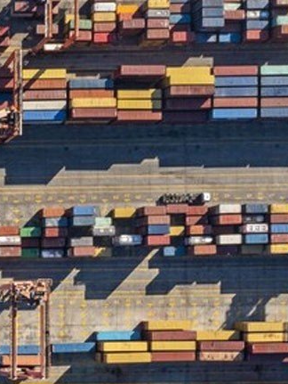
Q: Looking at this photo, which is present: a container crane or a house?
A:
container crane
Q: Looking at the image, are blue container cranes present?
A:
No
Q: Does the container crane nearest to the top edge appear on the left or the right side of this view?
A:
left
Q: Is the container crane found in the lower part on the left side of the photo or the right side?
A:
left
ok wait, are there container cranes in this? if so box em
[0,276,52,381]
[9,0,83,68]
[0,37,27,151]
